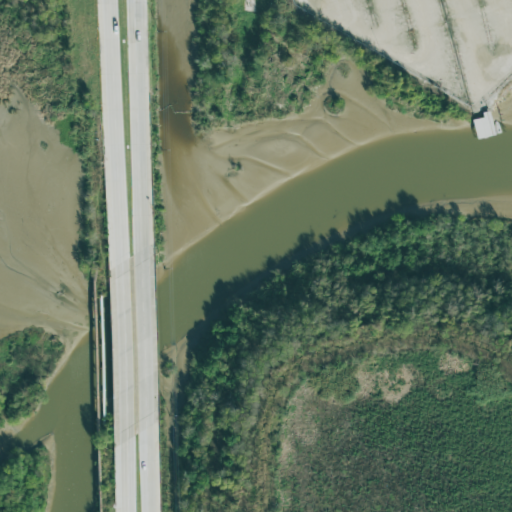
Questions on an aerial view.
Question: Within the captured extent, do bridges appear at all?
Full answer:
Yes, there's a bridge here.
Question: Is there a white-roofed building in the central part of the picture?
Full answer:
No, there's no white-roofed building to be seen in the central part of the picture.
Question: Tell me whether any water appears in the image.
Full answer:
Yes, the picture does contain water.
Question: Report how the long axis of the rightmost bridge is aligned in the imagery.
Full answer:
Seen from above, the rightmost bridge lies from top to bottom.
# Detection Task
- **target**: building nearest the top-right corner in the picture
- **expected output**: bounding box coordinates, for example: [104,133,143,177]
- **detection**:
[474,111,498,140]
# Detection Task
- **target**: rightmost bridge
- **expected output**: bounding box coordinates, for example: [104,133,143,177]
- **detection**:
[110,246,159,446]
